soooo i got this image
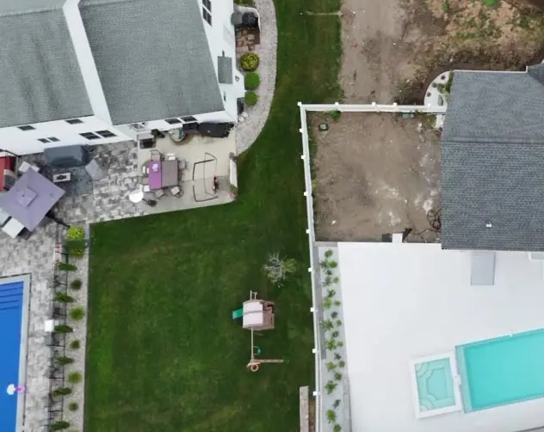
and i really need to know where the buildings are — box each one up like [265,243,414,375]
[440,61,544,256]
[0,0,244,156]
